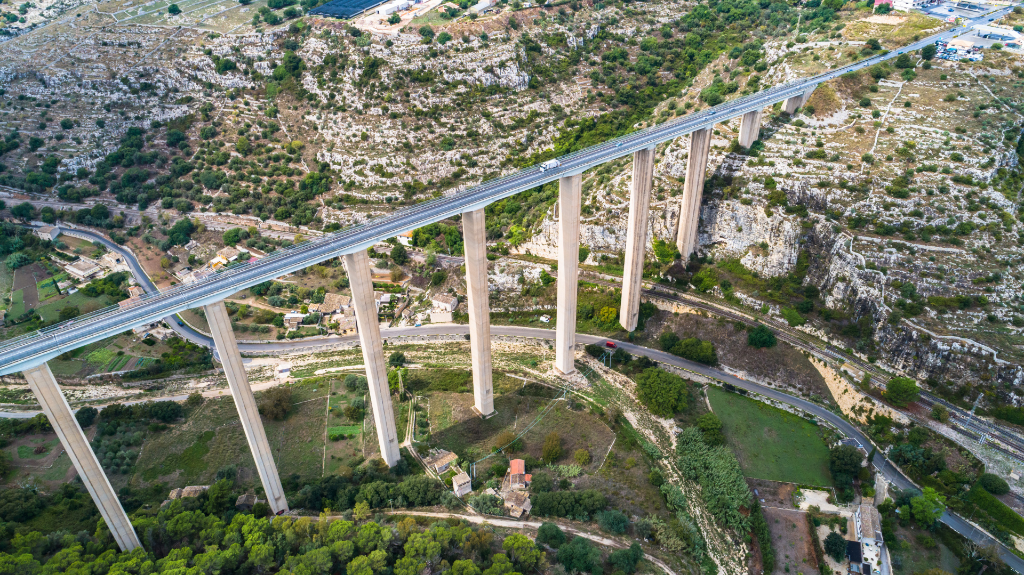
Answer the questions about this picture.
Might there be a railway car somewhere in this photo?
No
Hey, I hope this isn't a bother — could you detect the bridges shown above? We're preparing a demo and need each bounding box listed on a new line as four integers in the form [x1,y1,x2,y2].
[0,70,828,564]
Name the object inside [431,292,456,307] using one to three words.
house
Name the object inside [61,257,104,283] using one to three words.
house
